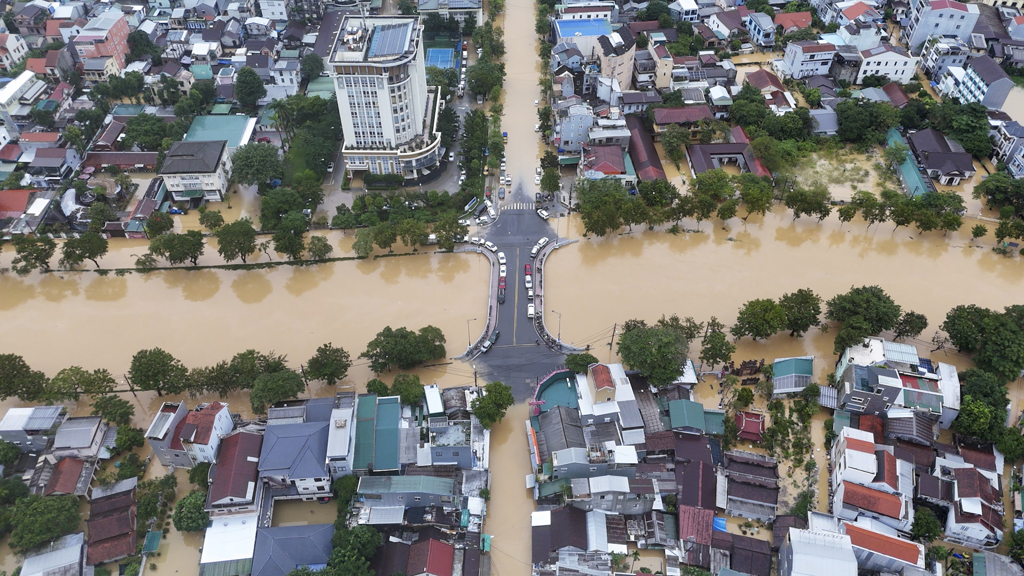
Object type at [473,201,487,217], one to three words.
vehicle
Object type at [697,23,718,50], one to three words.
house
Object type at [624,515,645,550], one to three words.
shed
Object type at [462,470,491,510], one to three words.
house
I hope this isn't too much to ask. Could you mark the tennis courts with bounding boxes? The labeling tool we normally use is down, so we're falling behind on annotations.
[429,29,464,79]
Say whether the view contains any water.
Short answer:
Yes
